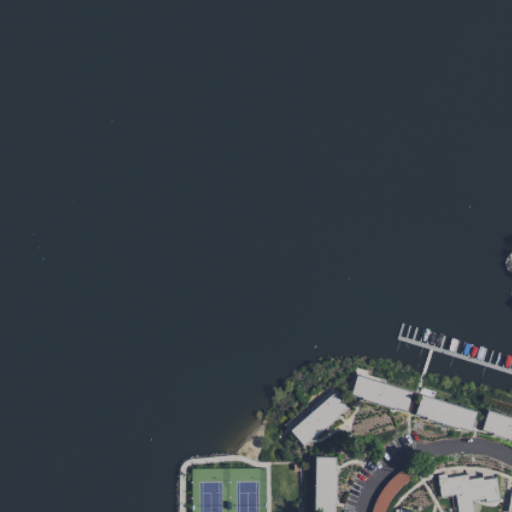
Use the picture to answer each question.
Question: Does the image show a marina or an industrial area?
marina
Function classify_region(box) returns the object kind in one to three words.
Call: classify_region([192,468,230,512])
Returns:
tennis court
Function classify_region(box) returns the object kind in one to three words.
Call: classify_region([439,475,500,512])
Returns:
building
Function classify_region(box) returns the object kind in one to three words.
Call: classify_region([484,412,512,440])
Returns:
building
